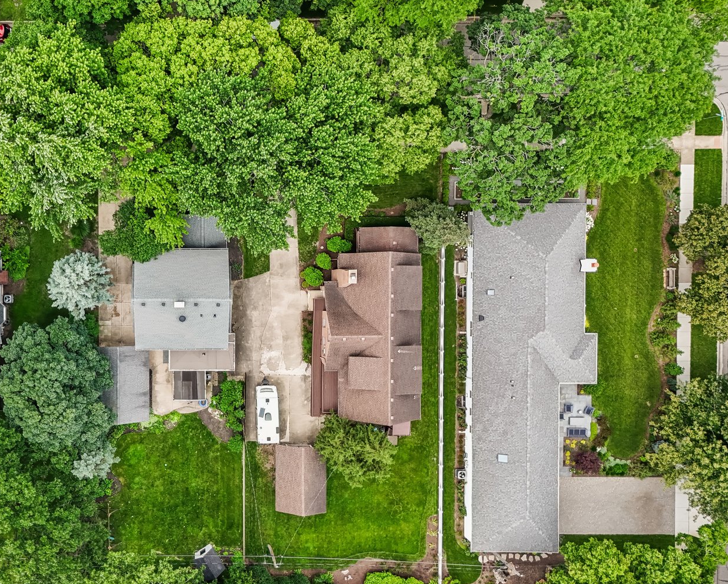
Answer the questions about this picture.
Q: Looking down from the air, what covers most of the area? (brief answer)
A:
trees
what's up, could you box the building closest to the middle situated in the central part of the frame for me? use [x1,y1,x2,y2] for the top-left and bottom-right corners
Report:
[307,224,429,435]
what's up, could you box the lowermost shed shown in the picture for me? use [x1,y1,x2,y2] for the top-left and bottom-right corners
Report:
[196,544,225,582]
